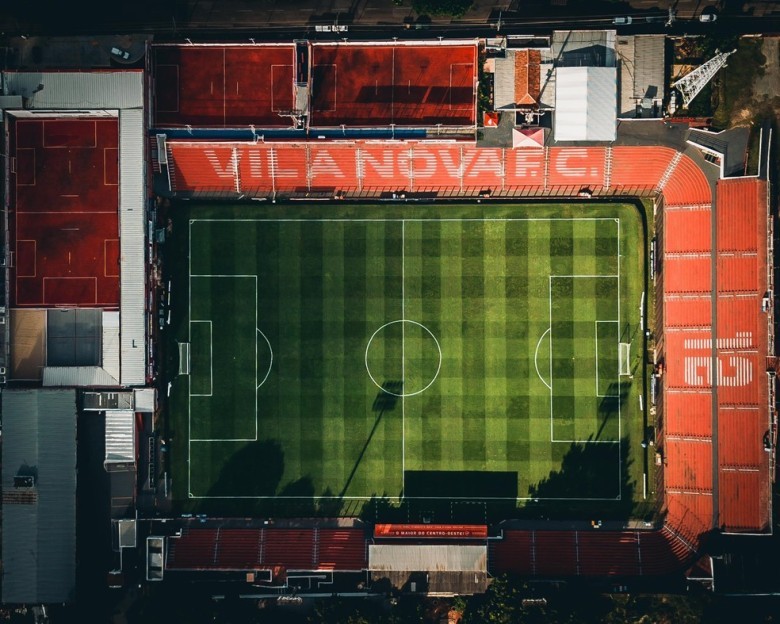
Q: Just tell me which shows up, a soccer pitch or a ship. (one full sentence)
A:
This aerial view contains a soccer pitch.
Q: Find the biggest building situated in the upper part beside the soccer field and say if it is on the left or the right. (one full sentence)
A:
The biggest building situated in the upper part beside the soccer field sits on the left side.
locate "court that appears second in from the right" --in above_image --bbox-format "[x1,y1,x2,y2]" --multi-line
[152,45,296,126]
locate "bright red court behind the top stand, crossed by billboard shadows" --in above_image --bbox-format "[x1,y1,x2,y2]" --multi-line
[312,44,475,126]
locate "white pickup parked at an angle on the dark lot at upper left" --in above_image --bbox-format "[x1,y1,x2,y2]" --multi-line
[110,44,130,60]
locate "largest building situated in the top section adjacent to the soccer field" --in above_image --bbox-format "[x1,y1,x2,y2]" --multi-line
[5,71,152,385]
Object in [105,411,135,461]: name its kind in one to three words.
building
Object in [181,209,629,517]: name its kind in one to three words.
soccer field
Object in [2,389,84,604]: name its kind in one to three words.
shed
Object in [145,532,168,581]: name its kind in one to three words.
house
